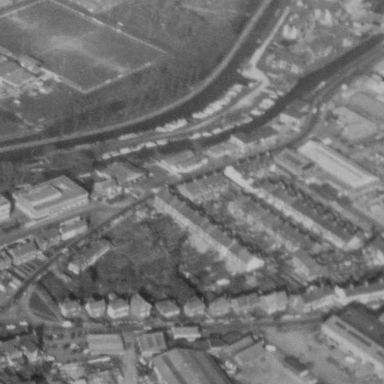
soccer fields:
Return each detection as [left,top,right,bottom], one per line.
[0,0,162,91]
